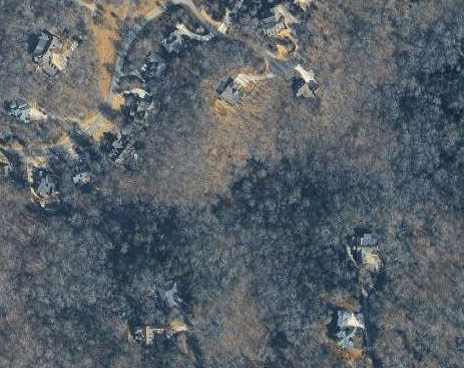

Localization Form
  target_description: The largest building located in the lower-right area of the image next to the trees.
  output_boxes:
[334,305,366,345]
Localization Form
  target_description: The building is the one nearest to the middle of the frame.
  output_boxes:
[218,80,248,105]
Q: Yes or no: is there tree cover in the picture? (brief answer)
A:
Yes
